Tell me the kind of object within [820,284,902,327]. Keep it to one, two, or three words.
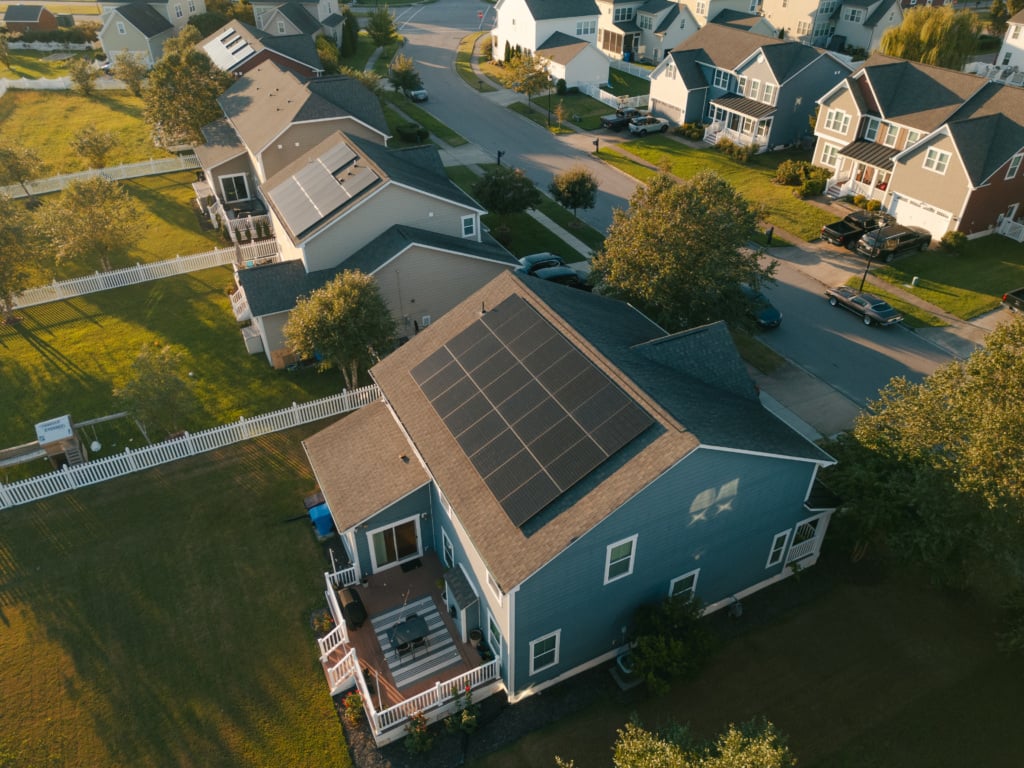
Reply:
car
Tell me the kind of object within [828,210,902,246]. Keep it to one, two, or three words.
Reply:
truck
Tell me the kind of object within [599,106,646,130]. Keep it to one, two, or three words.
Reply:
truck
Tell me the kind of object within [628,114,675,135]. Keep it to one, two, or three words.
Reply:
car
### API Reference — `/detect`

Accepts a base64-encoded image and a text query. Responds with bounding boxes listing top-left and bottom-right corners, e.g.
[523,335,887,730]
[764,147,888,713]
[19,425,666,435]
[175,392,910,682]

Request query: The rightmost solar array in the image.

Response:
[413,294,654,524]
